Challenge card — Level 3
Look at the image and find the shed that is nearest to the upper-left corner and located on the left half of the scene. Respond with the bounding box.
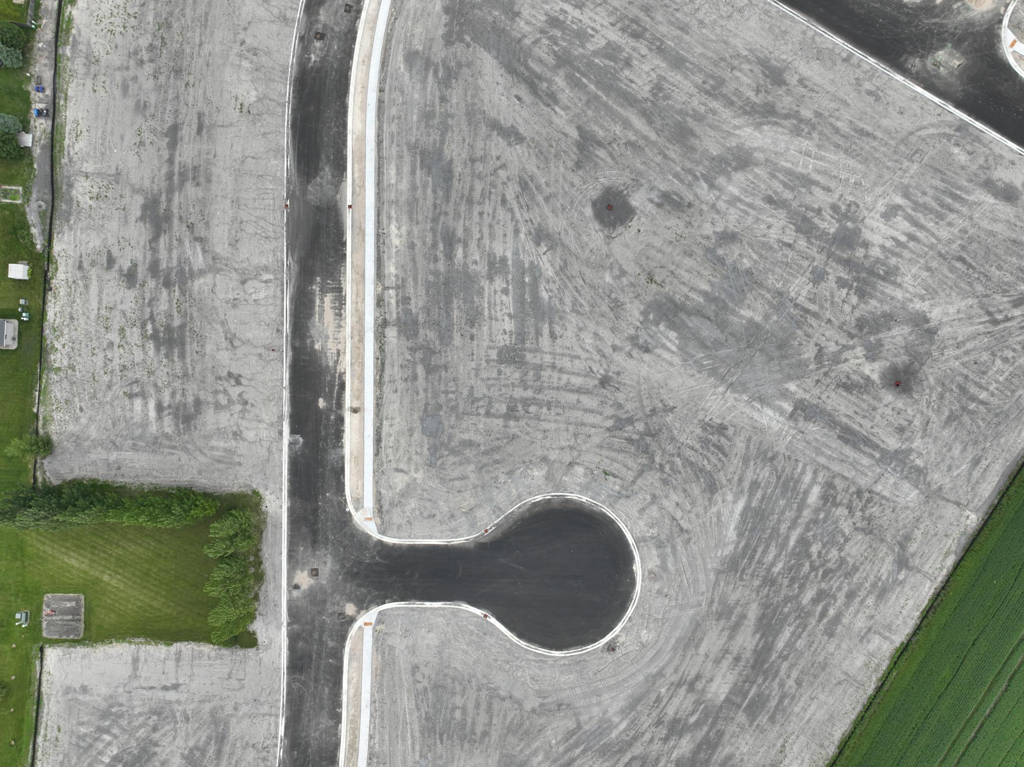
[11,263,35,281]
